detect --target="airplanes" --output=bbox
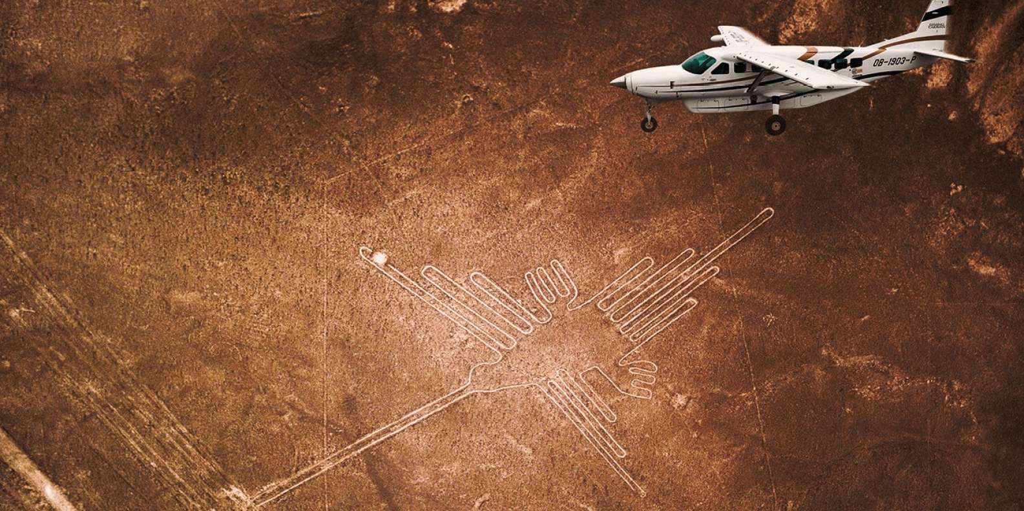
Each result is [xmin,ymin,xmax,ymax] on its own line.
[611,0,976,136]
